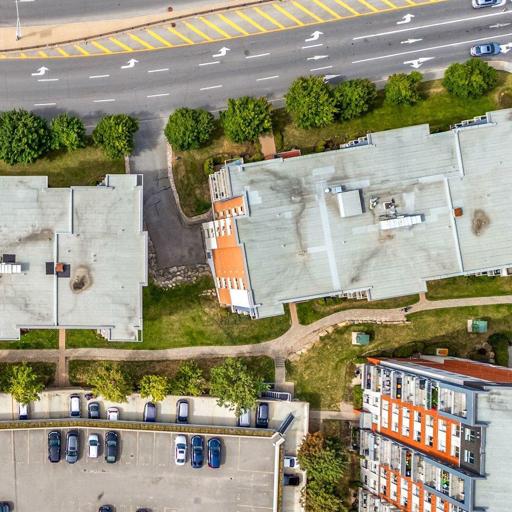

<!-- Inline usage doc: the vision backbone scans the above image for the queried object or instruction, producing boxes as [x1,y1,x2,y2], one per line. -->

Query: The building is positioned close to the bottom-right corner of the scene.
[343,354,512,512]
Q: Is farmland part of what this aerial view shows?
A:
No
